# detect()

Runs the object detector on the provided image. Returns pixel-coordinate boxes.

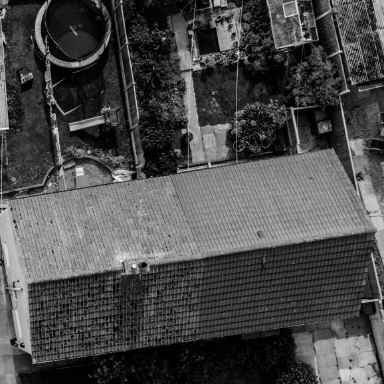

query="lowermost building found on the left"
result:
[0,172,207,365]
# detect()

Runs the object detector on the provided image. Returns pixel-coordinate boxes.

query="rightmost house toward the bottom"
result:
[170,148,382,342]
